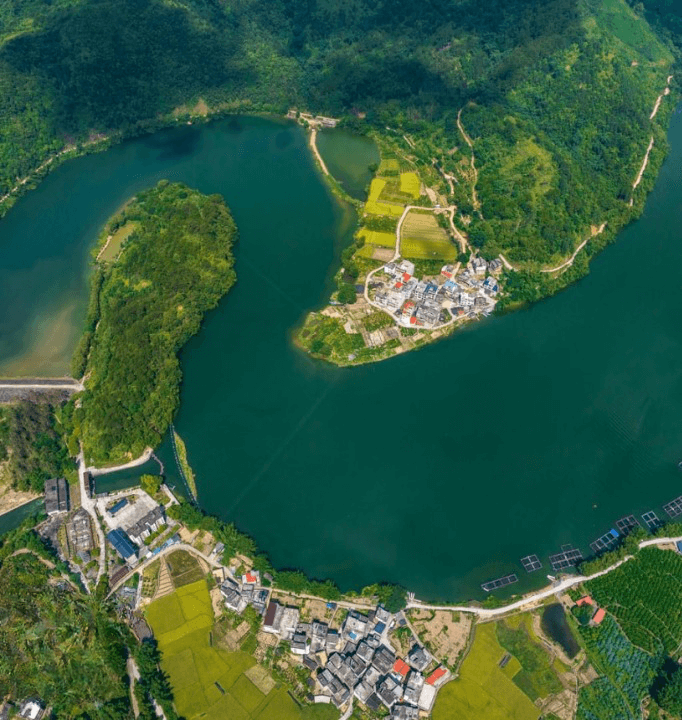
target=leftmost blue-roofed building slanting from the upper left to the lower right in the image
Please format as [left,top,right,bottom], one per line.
[107,528,136,565]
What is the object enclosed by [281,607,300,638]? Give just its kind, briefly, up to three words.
building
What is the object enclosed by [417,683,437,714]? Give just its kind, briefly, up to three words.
house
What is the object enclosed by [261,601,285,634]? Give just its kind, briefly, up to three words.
building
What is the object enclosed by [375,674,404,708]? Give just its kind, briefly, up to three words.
house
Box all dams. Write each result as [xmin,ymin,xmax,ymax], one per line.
[0,381,86,406]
